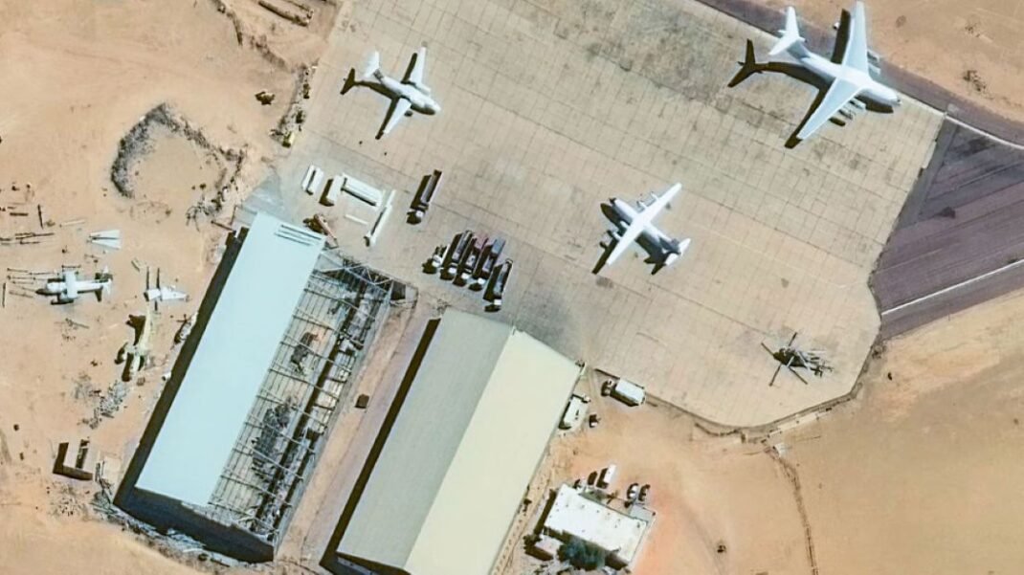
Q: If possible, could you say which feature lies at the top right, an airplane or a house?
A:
airplane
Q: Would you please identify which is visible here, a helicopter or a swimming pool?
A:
helicopter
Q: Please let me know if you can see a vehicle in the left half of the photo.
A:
Yes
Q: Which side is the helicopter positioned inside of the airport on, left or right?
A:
right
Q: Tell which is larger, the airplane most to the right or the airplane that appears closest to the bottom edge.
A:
the airplane most to the right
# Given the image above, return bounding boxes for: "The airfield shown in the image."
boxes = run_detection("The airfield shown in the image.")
[232,0,1024,428]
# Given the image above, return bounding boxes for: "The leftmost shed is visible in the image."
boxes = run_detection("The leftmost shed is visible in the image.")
[64,437,100,481]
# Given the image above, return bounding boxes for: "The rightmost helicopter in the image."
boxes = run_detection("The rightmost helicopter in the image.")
[769,328,830,382]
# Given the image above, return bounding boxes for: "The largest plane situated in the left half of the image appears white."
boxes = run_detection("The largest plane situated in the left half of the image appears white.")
[362,46,441,132]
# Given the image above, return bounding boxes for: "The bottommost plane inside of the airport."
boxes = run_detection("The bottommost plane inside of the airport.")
[608,183,688,268]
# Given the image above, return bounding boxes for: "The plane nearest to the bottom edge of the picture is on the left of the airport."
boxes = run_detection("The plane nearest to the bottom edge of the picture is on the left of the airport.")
[123,304,149,381]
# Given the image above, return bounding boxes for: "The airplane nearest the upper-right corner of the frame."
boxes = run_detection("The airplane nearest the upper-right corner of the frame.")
[767,2,899,138]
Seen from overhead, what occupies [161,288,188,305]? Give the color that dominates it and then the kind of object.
white airplane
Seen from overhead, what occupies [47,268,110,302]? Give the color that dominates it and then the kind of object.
white airplane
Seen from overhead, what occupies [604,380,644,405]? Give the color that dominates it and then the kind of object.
white truck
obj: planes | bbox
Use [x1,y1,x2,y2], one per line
[608,183,688,268]
[362,46,441,132]
[47,268,110,302]
[767,2,899,138]
[123,304,149,381]
[161,288,188,305]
